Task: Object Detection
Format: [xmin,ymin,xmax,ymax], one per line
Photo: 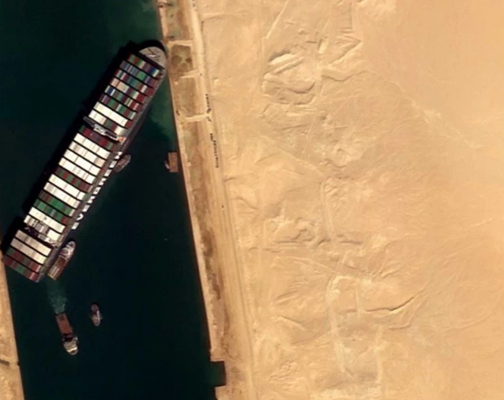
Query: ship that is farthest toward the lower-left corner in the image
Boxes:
[55,311,76,356]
